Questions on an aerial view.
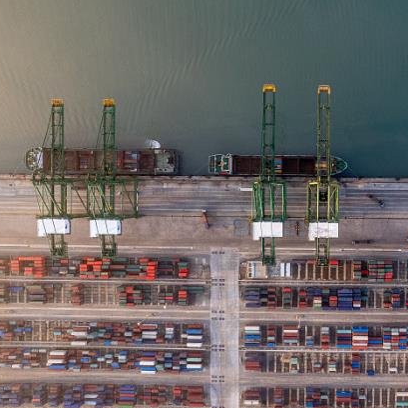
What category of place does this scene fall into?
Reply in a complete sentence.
This looks like a port.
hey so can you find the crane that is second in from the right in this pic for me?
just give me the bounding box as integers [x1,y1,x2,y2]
[251,84,293,266]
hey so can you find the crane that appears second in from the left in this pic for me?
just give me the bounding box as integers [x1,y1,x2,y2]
[84,87,149,258]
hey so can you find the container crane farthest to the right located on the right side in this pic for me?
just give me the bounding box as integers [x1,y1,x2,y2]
[303,85,342,266]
